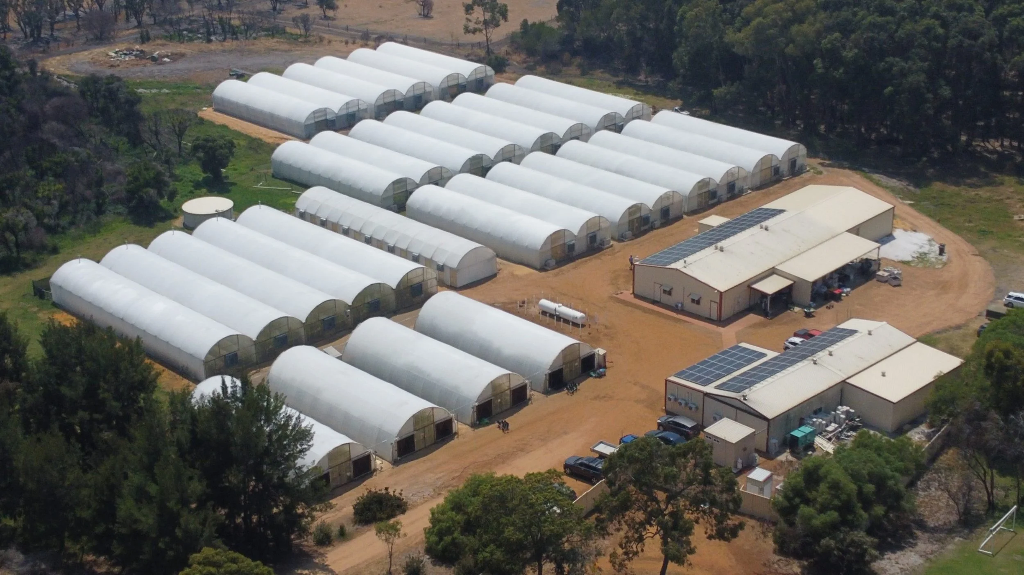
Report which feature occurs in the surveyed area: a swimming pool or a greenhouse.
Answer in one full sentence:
Of the two, only a greenhouse appears.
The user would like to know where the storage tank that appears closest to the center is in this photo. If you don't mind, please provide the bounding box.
[539,296,585,324]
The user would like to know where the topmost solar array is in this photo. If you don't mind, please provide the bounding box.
[640,207,785,265]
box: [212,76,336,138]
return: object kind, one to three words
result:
greenhouse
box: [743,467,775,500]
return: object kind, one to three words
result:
shed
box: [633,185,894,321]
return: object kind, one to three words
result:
shed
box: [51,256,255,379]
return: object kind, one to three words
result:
greenhouse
